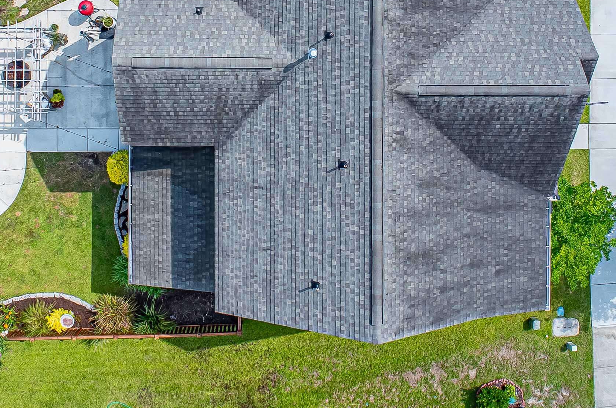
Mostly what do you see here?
buildings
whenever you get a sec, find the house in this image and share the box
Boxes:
[112,0,609,345]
